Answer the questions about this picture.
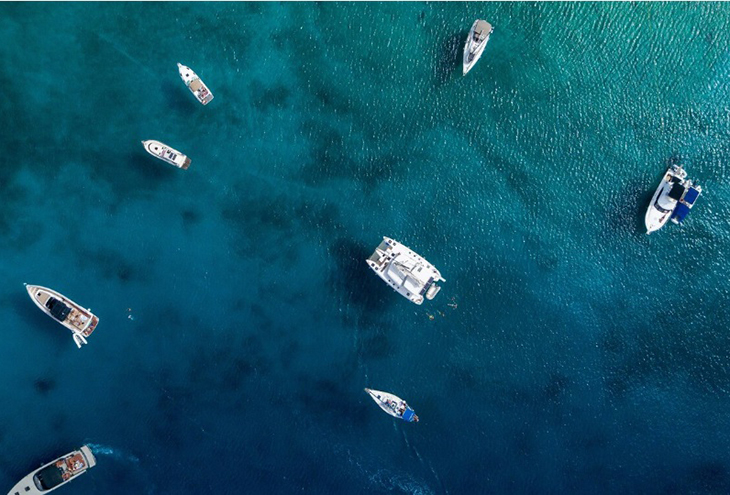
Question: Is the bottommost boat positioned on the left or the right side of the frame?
left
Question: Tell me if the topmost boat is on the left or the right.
right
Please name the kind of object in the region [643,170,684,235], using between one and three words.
boat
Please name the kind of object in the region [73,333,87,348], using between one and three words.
boat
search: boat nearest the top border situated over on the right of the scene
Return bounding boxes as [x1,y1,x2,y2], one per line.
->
[463,18,492,77]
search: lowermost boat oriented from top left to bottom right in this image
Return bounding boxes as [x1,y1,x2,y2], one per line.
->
[364,389,418,429]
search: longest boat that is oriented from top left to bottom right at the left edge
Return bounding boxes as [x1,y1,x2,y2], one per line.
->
[24,284,101,335]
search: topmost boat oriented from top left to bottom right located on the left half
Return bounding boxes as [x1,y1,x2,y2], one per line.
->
[177,63,215,106]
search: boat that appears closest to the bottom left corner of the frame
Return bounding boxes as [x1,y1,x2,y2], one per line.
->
[11,446,96,495]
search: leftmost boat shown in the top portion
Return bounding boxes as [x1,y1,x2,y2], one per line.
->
[140,139,192,170]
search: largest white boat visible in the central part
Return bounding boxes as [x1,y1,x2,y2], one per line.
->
[366,237,445,305]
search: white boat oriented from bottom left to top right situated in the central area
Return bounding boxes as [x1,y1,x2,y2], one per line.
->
[427,282,442,300]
